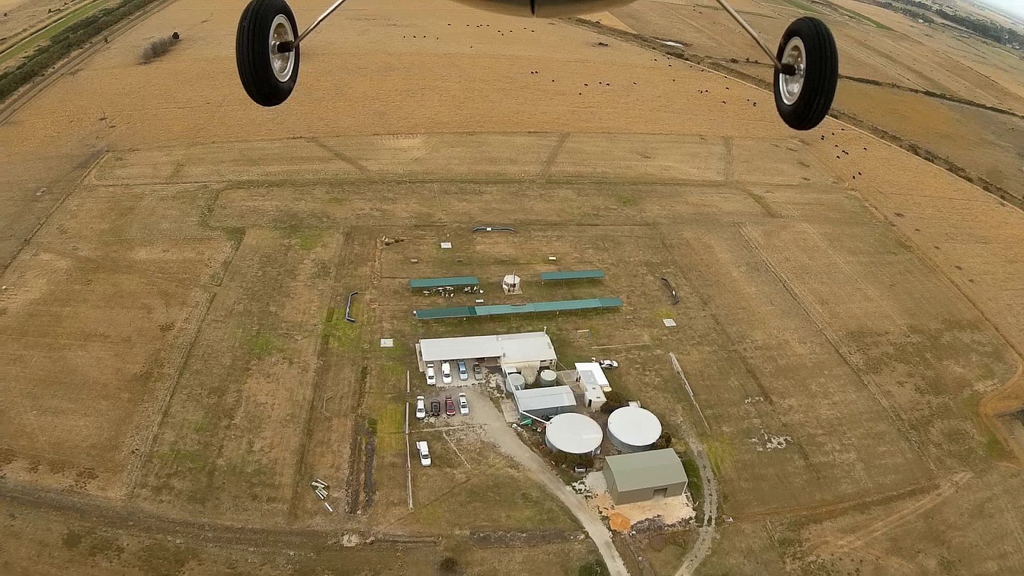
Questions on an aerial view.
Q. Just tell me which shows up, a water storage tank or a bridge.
water storage tank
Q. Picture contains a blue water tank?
No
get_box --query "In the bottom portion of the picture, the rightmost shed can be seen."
[604,447,690,505]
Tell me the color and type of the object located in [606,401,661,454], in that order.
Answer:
white water tank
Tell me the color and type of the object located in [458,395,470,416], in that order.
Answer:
white vehicle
